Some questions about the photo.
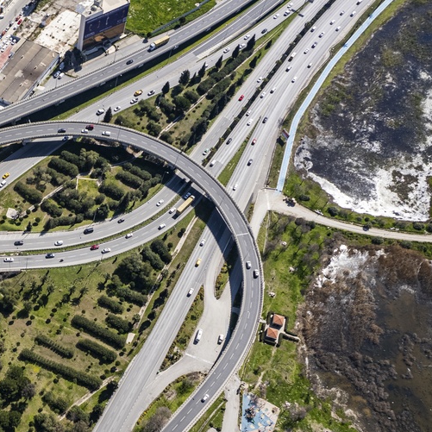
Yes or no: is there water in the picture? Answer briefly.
Yes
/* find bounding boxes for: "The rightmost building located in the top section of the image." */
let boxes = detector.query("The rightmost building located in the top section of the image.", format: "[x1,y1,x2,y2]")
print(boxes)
[62,0,129,51]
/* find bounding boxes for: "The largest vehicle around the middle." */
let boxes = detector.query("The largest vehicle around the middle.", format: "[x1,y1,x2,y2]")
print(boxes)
[174,195,195,217]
